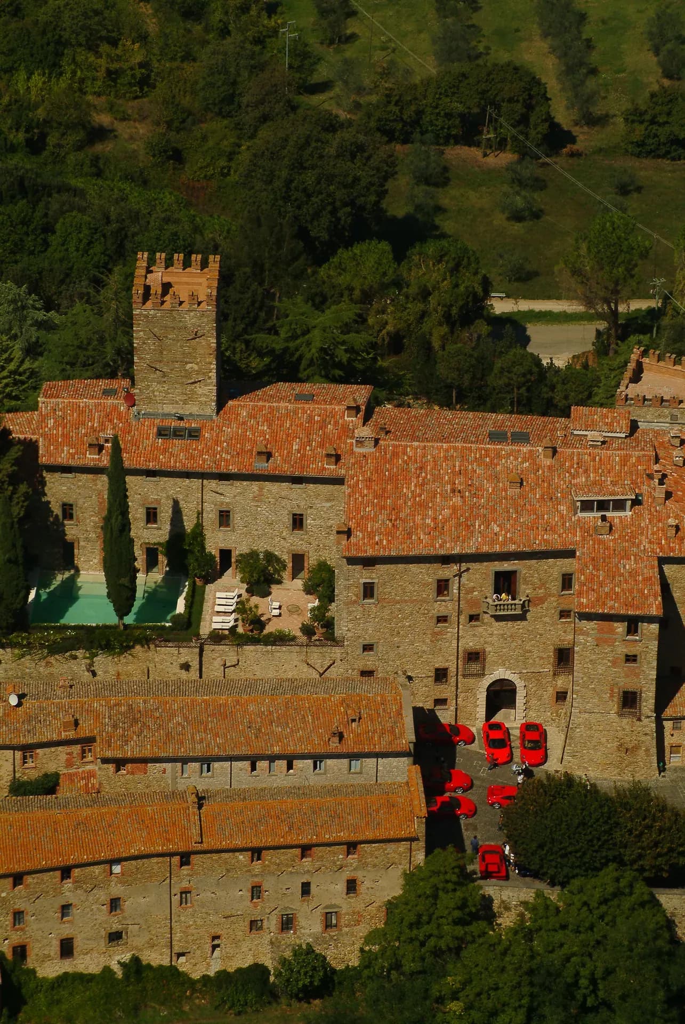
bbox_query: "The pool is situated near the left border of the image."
[30,570,194,626]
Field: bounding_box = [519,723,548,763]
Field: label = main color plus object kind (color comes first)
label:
red car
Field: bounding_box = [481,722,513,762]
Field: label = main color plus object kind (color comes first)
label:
red car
